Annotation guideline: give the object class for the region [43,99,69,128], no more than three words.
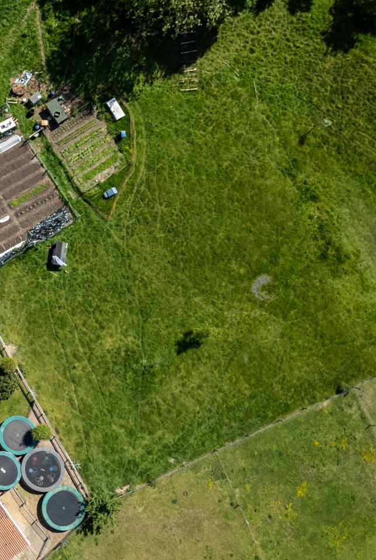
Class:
shed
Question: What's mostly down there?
grass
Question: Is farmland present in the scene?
Yes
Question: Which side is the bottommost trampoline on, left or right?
left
